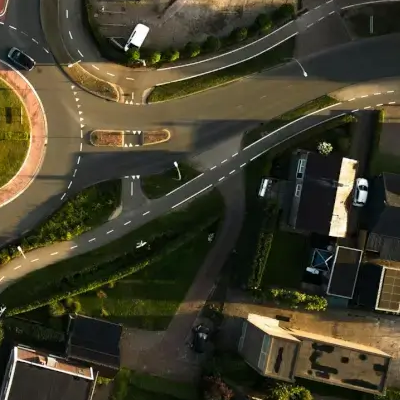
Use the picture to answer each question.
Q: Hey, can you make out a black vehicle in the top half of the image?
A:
Yes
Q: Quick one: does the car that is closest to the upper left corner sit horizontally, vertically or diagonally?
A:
diagonally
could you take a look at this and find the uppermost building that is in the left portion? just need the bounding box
[63,310,122,367]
